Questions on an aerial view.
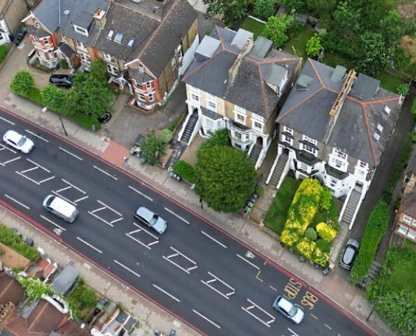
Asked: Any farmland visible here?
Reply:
No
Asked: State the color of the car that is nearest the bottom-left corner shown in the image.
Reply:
white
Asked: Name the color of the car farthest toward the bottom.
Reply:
white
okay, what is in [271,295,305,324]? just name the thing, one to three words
car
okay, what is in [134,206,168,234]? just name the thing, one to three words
car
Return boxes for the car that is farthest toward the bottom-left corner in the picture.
[43,196,80,223]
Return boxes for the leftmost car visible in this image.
[1,131,34,154]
